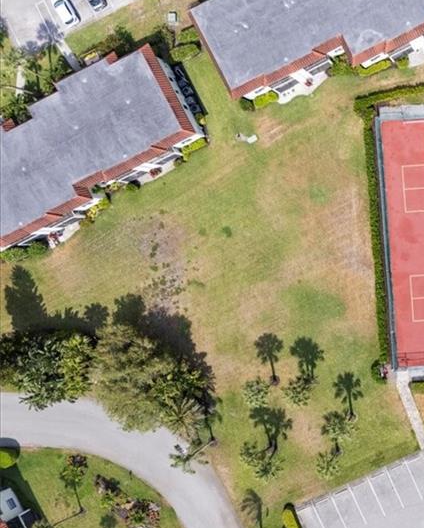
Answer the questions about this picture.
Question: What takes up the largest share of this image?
grass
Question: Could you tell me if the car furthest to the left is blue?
No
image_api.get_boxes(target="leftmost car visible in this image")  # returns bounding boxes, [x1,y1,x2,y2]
[50,0,82,28]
